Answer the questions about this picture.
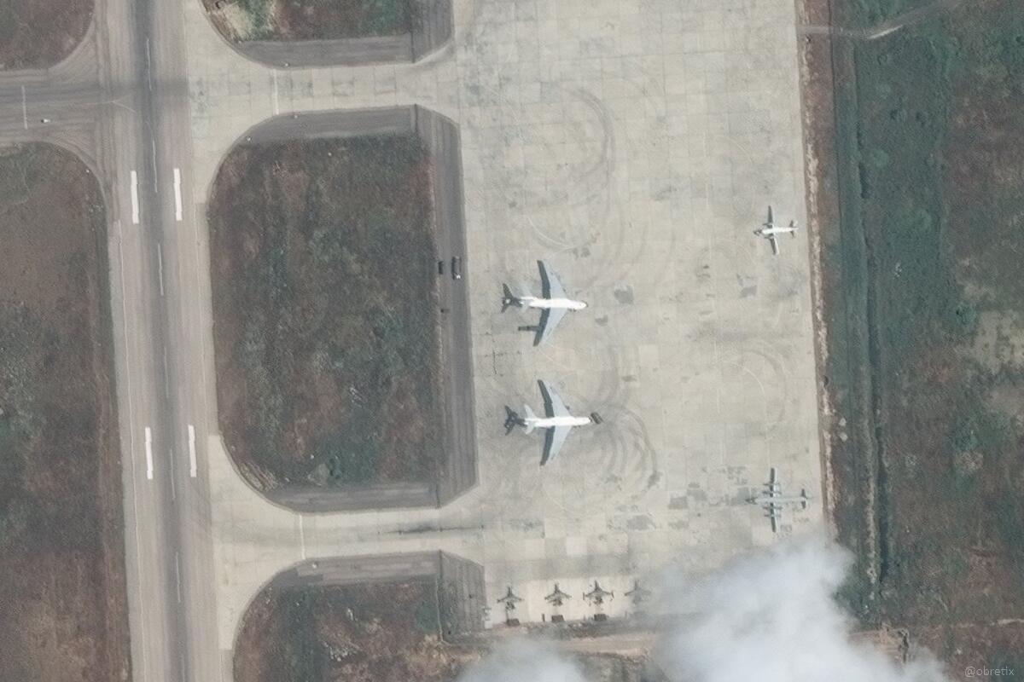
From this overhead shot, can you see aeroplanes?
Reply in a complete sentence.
Yes, I can see an aeroplane in this picture.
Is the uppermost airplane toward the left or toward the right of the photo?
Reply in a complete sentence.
The uppermost airplane appears in the right half of the scene.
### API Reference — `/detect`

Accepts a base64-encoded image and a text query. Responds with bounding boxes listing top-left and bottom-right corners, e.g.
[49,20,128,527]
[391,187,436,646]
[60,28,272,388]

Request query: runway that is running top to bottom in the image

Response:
[97,0,233,682]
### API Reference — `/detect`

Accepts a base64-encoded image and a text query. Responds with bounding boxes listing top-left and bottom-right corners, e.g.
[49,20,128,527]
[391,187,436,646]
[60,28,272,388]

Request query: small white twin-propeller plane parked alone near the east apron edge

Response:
[758,206,803,255]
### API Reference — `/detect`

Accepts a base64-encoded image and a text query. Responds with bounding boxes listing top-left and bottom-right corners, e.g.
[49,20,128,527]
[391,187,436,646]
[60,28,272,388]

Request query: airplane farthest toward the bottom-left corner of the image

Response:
[498,587,523,610]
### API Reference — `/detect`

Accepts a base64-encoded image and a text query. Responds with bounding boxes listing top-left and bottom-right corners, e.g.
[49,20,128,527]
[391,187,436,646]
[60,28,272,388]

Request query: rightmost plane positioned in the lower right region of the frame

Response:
[751,467,816,532]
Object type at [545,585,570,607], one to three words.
airplane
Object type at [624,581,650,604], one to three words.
airplane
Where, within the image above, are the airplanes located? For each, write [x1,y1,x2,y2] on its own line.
[584,581,609,604]
[758,206,803,255]
[512,260,587,345]
[515,378,590,464]
[624,581,650,604]
[545,585,570,607]
[751,467,816,532]
[498,587,523,610]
